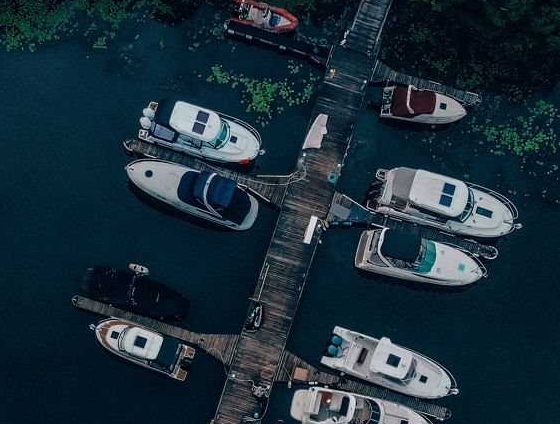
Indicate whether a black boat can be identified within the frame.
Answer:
Yes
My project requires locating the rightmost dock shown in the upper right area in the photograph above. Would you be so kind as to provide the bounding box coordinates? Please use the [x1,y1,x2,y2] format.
[371,61,480,107]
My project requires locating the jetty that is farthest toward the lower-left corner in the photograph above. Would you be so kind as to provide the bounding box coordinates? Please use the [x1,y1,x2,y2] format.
[71,294,240,367]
